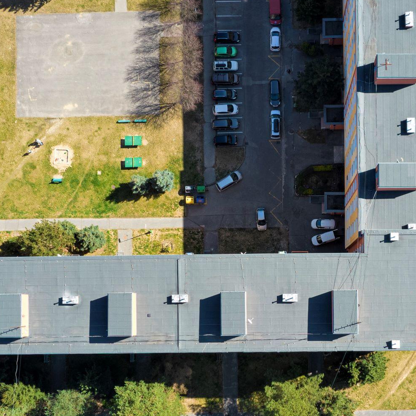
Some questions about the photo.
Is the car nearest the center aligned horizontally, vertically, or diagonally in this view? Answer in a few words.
diagonally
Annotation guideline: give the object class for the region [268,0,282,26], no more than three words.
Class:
vehicle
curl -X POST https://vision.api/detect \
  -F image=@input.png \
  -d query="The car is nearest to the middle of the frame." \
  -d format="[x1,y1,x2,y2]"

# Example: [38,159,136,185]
[215,170,242,193]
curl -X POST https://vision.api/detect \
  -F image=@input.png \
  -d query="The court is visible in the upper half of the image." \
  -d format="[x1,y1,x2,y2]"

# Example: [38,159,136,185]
[16,11,161,117]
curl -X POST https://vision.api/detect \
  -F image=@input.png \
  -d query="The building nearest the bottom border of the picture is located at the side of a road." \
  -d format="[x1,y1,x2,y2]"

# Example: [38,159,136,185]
[0,229,416,354]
